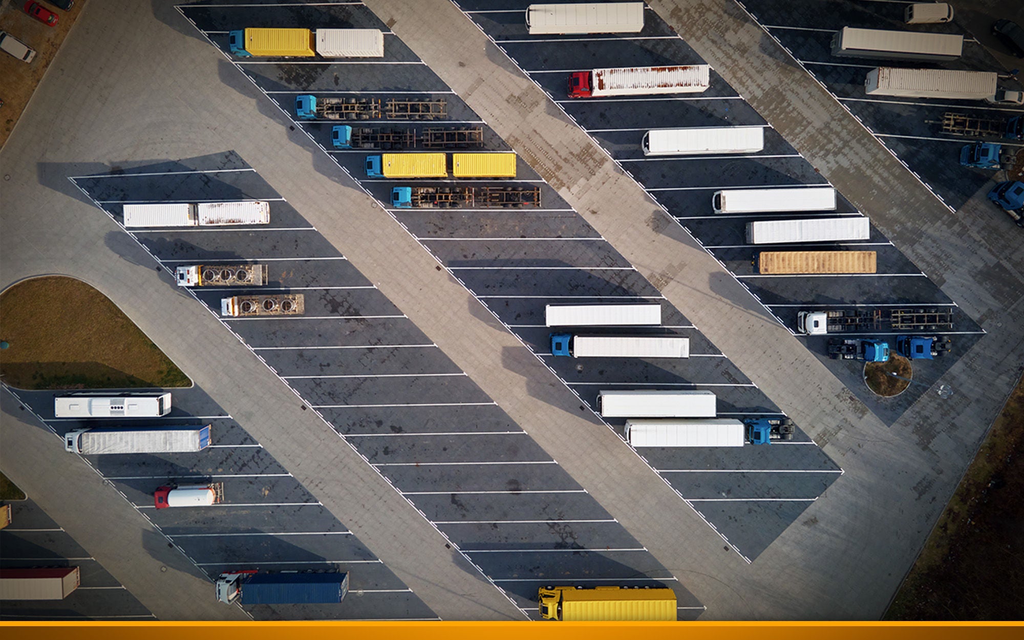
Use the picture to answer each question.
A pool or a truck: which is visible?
truck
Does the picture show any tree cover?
No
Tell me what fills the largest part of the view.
paved ground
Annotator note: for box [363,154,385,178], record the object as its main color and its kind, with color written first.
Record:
blue truck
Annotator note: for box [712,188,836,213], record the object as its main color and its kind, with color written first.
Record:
white trailer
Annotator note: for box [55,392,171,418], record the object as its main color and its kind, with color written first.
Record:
white bus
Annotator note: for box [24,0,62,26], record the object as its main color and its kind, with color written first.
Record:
red car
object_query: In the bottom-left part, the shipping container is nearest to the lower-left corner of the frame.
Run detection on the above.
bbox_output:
[0,568,77,600]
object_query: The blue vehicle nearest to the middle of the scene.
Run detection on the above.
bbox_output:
[551,334,574,357]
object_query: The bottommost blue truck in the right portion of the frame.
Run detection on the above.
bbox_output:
[741,418,793,445]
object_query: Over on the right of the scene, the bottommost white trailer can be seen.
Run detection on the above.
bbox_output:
[625,418,743,446]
